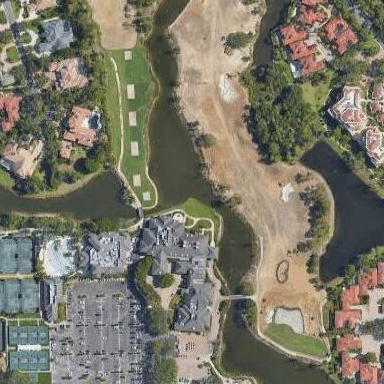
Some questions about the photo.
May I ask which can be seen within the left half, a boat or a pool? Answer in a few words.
pool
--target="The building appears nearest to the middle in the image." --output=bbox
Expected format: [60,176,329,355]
[134,216,215,277]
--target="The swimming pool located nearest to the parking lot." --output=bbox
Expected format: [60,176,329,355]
[40,235,76,277]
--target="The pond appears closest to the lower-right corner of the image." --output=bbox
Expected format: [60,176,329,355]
[303,141,384,283]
